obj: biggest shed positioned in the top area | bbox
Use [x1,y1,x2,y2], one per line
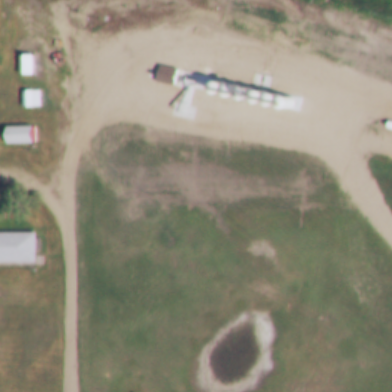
[3,125,38,148]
